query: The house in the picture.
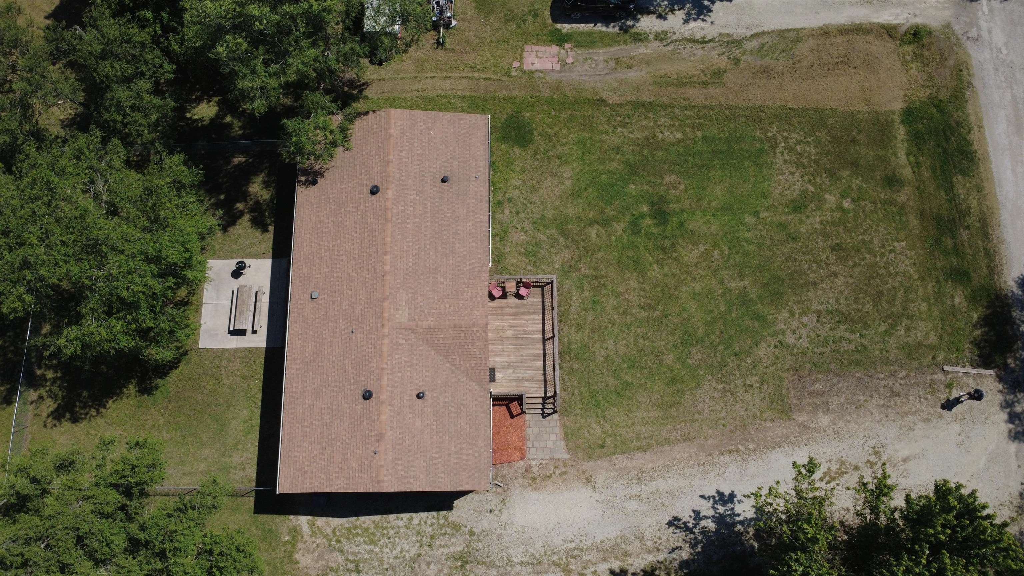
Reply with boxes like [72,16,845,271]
[277,109,493,494]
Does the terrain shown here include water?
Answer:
No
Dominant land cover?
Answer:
grass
